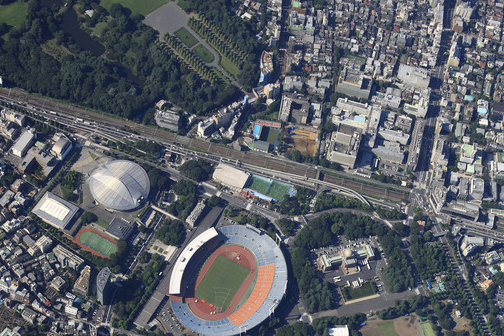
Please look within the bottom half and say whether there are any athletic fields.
Yes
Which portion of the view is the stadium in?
bottom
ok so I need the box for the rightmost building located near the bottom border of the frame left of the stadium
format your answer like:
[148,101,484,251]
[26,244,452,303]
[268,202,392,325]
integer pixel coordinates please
[137,289,165,320]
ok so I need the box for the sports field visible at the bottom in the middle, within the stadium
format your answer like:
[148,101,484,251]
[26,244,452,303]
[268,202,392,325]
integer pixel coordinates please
[194,254,251,310]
